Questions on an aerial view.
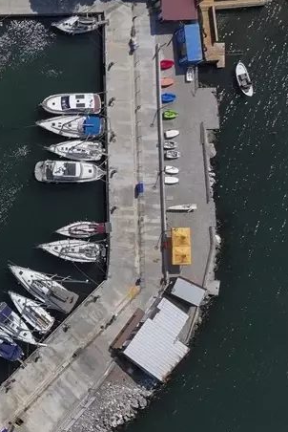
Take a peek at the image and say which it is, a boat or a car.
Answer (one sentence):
It is a boat that can be seen here.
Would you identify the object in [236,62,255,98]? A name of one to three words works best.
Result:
boat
